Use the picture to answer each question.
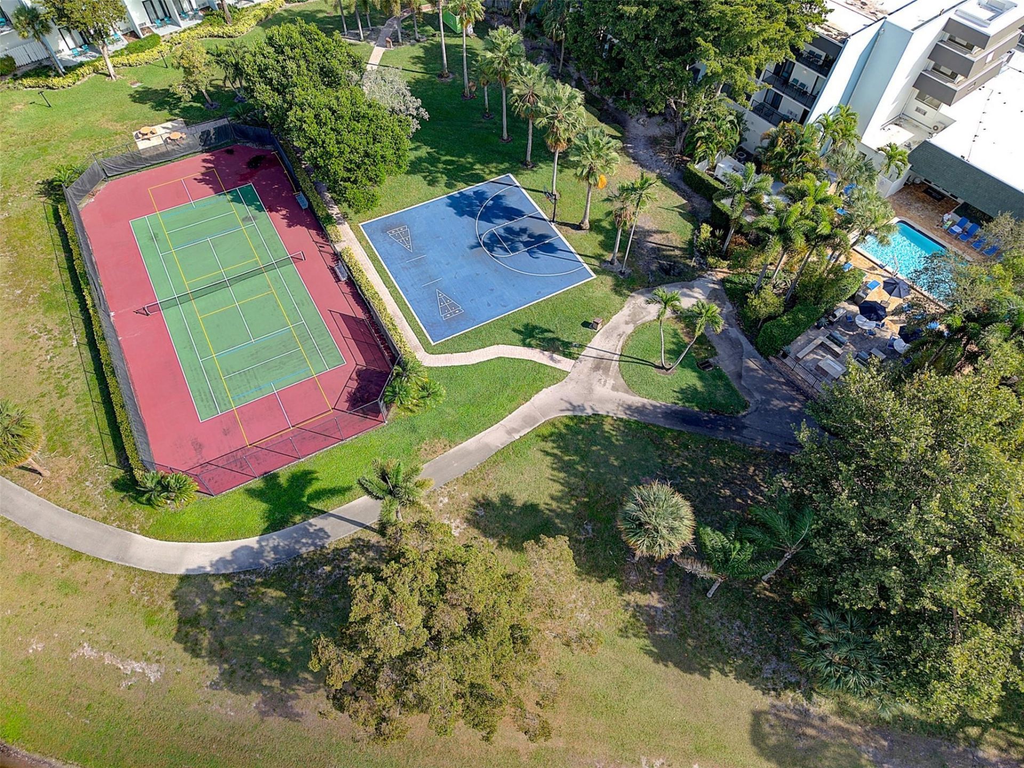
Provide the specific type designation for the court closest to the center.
basketball court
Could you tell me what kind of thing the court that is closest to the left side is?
tennis court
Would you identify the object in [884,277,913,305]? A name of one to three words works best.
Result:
umbrella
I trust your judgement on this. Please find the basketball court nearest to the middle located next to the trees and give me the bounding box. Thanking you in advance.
[359,174,596,344]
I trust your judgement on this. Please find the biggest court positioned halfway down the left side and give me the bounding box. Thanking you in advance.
[80,144,397,496]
